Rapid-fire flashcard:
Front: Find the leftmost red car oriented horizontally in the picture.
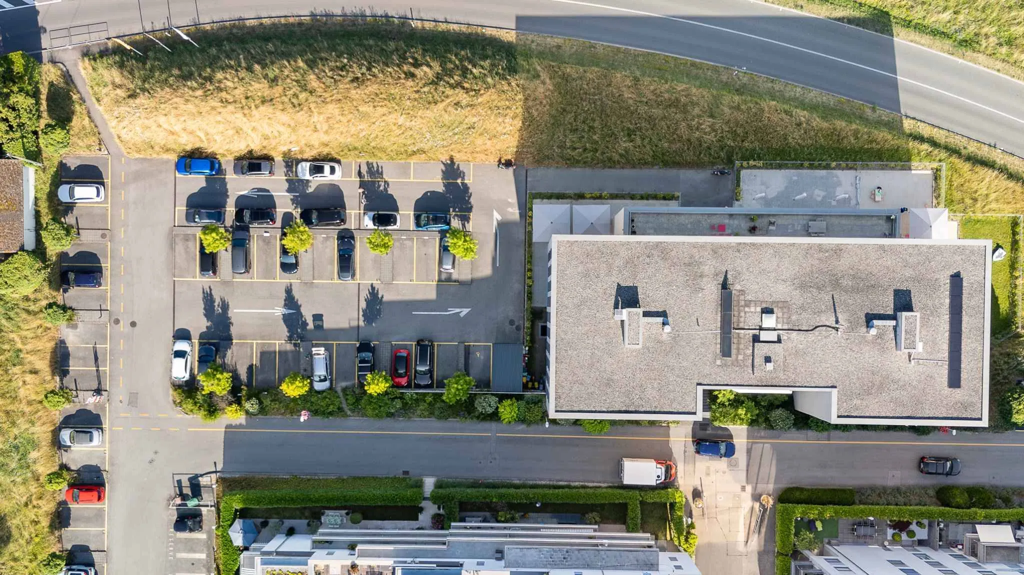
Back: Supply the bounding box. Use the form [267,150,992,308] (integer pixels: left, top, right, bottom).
[67,485,107,505]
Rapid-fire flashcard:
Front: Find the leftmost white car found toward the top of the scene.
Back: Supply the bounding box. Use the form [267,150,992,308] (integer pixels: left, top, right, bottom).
[59,182,107,204]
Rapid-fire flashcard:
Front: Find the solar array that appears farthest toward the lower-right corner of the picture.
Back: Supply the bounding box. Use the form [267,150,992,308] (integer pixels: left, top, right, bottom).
[949,277,962,388]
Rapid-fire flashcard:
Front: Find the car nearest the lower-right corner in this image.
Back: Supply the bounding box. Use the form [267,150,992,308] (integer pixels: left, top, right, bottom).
[917,456,960,478]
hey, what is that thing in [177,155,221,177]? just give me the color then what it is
blue car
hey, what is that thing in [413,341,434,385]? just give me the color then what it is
black car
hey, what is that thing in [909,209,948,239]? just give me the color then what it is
white umbrella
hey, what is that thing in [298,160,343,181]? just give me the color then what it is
white car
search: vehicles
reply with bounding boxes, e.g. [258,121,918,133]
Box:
[197,238,219,277]
[693,439,734,460]
[60,428,104,449]
[335,231,356,279]
[67,485,107,505]
[177,155,221,177]
[301,206,347,228]
[438,235,456,274]
[176,515,203,534]
[63,269,105,289]
[236,207,278,227]
[59,182,107,204]
[364,210,401,230]
[233,229,253,275]
[390,349,411,387]
[355,340,376,385]
[413,341,434,385]
[917,456,960,478]
[620,459,680,488]
[196,342,218,382]
[310,348,331,391]
[171,339,194,382]
[279,239,300,274]
[298,160,343,181]
[234,157,277,178]
[414,211,452,232]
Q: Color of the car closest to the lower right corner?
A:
black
